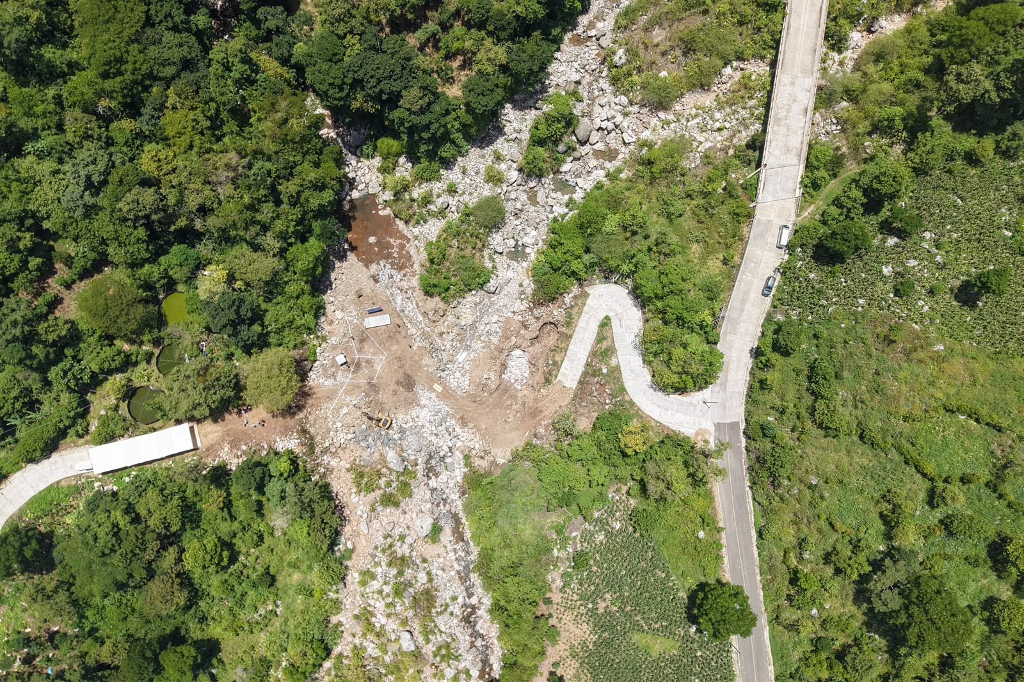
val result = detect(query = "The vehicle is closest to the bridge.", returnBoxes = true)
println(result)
[775,225,791,250]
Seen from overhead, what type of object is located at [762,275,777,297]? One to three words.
car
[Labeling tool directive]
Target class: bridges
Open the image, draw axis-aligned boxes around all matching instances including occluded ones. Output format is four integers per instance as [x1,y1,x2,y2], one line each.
[757,0,828,177]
